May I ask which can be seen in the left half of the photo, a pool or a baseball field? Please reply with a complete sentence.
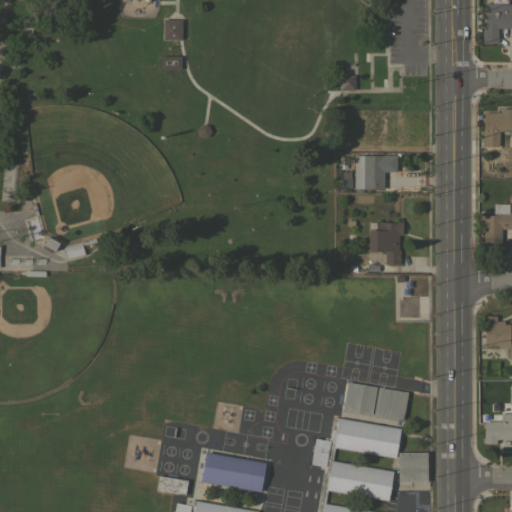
The feature located in the left half of the photo is a baseball field.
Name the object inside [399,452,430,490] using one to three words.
building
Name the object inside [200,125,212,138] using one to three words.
gazebo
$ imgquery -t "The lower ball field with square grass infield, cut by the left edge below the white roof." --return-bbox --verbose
[0,278,116,405]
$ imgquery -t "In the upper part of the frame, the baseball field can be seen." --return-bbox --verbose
[48,165,114,235]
